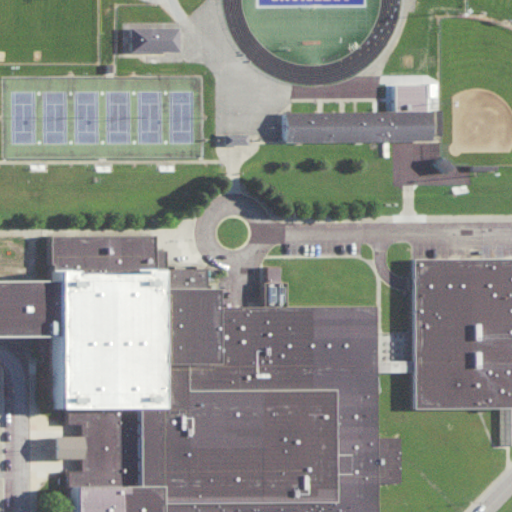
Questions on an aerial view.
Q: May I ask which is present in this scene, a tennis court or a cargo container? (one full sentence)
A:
There is a tennis court in the scene.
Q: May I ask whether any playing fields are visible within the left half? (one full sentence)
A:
Yes, within the left half there is a playing field.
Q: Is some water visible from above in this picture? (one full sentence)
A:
No, water can't be seen anywhere here.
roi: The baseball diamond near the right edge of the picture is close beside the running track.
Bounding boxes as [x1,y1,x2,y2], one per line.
[439,18,512,164]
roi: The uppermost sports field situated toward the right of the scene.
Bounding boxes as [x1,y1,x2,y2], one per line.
[242,0,380,66]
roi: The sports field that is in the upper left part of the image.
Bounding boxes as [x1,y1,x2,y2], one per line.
[0,0,98,63]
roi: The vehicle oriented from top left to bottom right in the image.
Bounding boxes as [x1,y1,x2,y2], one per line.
[212,257,228,270]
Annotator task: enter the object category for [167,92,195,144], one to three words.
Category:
tennis court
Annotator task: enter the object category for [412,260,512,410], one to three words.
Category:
building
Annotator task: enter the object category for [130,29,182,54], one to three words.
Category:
building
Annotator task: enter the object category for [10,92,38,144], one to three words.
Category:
tennis court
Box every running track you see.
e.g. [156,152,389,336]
[221,0,402,86]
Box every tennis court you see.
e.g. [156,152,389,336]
[136,92,164,144]
[10,92,38,144]
[72,92,101,144]
[41,92,70,144]
[167,92,195,144]
[104,92,132,144]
